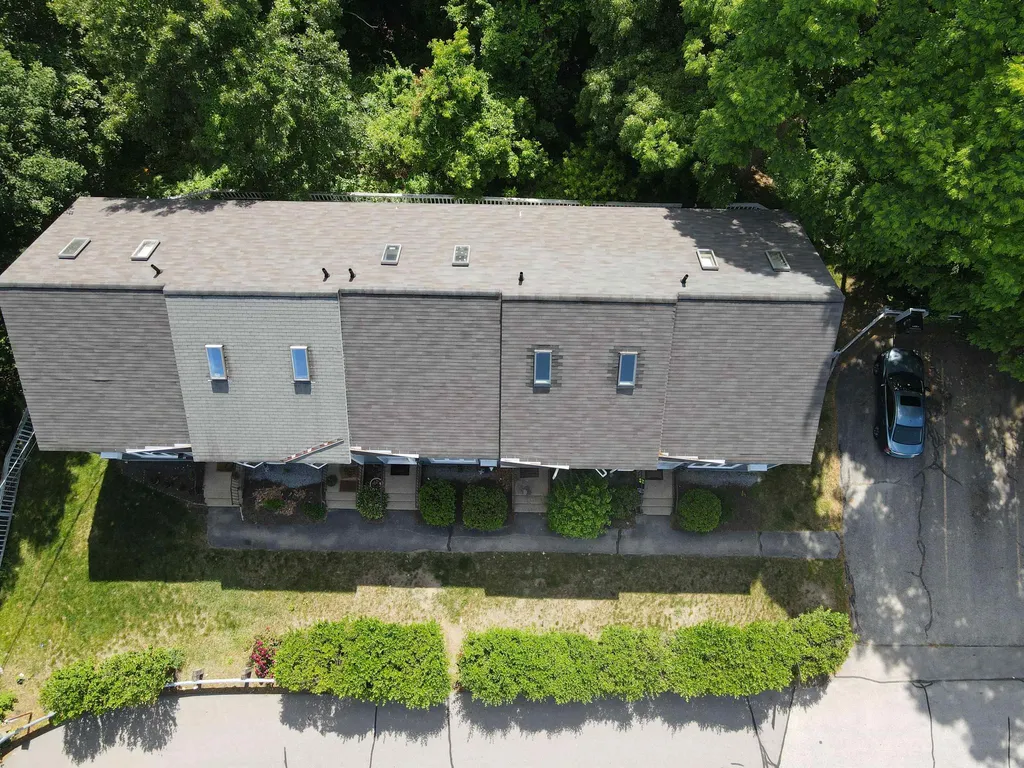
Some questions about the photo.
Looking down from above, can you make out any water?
No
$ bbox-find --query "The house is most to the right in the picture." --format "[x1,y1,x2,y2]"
[643,197,844,514]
